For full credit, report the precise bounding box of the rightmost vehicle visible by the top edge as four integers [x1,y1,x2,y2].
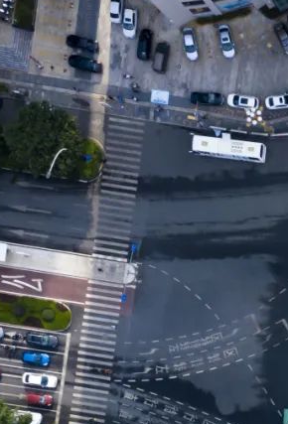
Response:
[273,20,288,54]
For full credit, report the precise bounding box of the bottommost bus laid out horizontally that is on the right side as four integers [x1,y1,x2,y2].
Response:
[190,132,270,164]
